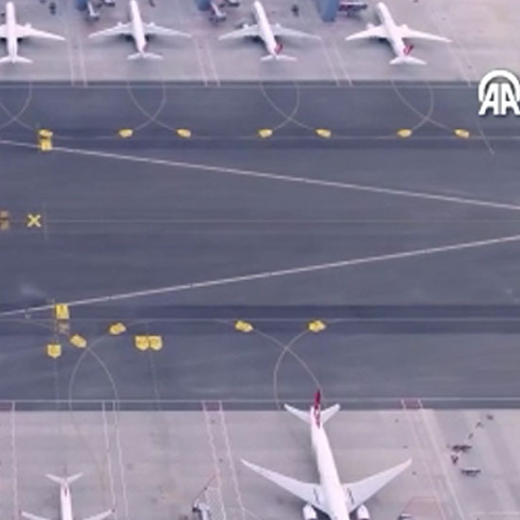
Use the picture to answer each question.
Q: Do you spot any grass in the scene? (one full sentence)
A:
No, there's no grass in this view.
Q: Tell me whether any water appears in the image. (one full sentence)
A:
No, the scene doesn't show any water.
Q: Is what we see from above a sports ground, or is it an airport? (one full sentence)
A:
This looks like an airport.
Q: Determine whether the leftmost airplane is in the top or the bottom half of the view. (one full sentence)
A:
The leftmost airplane is in the top half of the image.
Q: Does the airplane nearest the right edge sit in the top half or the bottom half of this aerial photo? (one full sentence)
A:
The airplane nearest the right edge sits in the top half of the picture.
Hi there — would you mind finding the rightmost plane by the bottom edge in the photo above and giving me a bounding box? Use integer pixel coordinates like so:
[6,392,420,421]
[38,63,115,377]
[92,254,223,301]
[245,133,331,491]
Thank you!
[242,399,411,520]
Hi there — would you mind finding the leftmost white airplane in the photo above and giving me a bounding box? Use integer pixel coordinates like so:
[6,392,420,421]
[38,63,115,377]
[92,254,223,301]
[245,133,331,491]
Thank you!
[0,0,65,61]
